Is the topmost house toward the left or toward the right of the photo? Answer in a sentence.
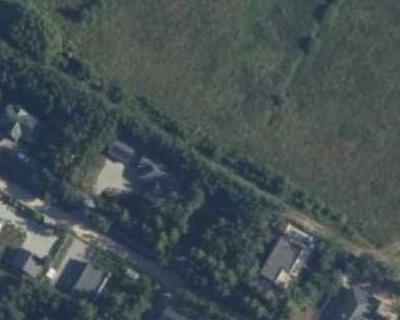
The topmost house is on the left side of the image.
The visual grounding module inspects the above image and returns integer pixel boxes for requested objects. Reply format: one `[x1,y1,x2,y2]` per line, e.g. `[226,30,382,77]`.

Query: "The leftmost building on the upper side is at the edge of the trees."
[1,103,38,142]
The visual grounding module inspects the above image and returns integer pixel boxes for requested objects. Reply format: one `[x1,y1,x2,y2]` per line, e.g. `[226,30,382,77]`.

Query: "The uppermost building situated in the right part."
[261,238,299,282]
